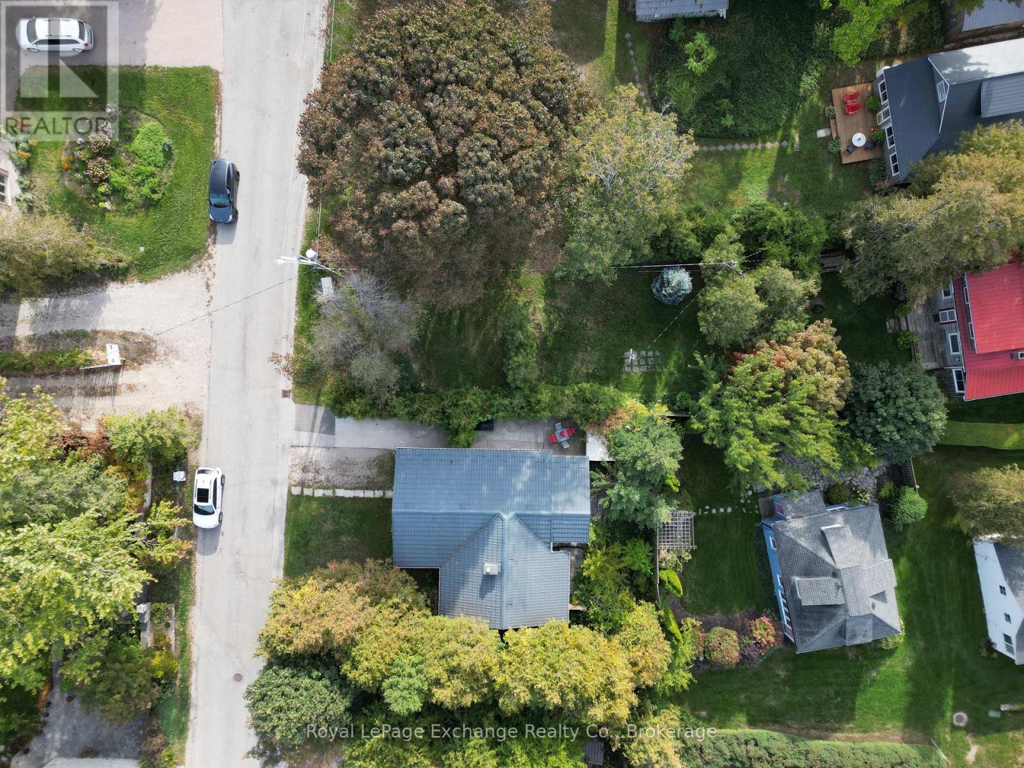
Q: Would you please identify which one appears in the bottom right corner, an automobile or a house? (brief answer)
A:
house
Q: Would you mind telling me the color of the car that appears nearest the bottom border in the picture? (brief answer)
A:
white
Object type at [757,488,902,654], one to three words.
house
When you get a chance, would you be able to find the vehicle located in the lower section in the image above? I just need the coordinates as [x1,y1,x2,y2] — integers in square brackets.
[189,467,225,530]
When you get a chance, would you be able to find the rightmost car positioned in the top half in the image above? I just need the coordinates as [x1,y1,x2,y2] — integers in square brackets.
[203,157,239,224]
